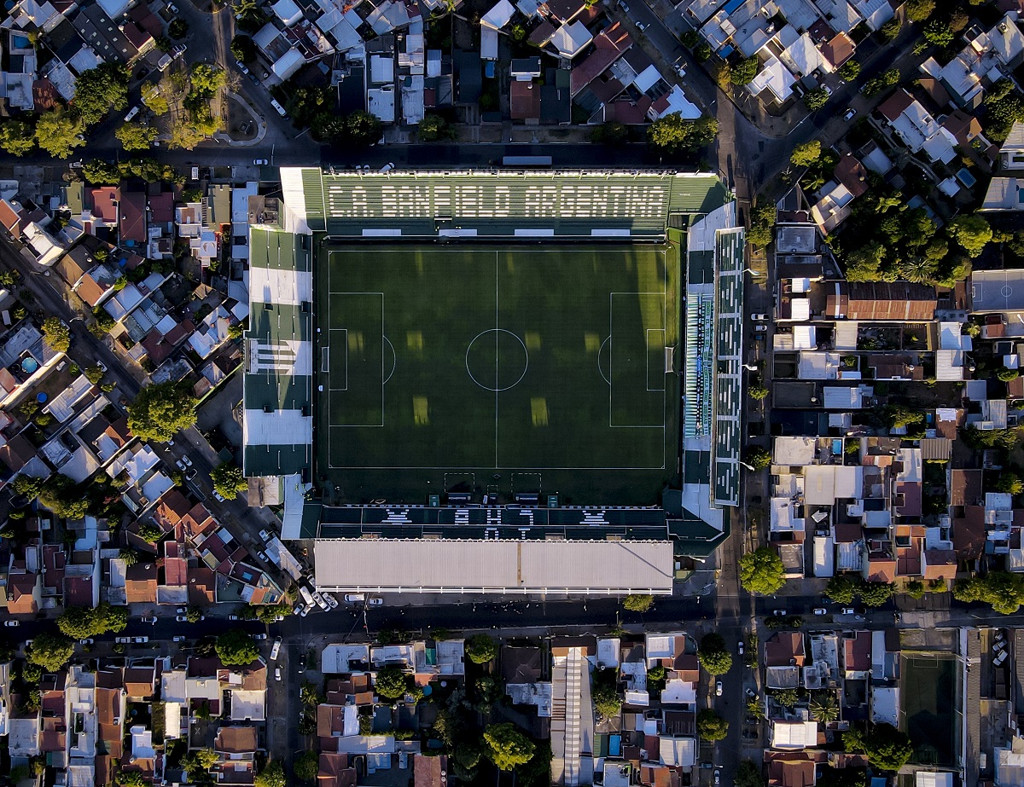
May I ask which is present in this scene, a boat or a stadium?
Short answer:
stadium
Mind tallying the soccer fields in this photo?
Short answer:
2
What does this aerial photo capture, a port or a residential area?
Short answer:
residential area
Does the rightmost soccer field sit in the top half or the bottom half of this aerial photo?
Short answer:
bottom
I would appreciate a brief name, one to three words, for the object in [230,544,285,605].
house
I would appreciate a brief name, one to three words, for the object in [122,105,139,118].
vehicle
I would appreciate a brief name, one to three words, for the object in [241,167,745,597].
stadium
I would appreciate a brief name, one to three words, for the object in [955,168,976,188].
swimming pool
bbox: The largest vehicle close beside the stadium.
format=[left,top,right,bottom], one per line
[502,156,552,168]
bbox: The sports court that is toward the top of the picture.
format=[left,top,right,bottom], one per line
[969,269,1024,312]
